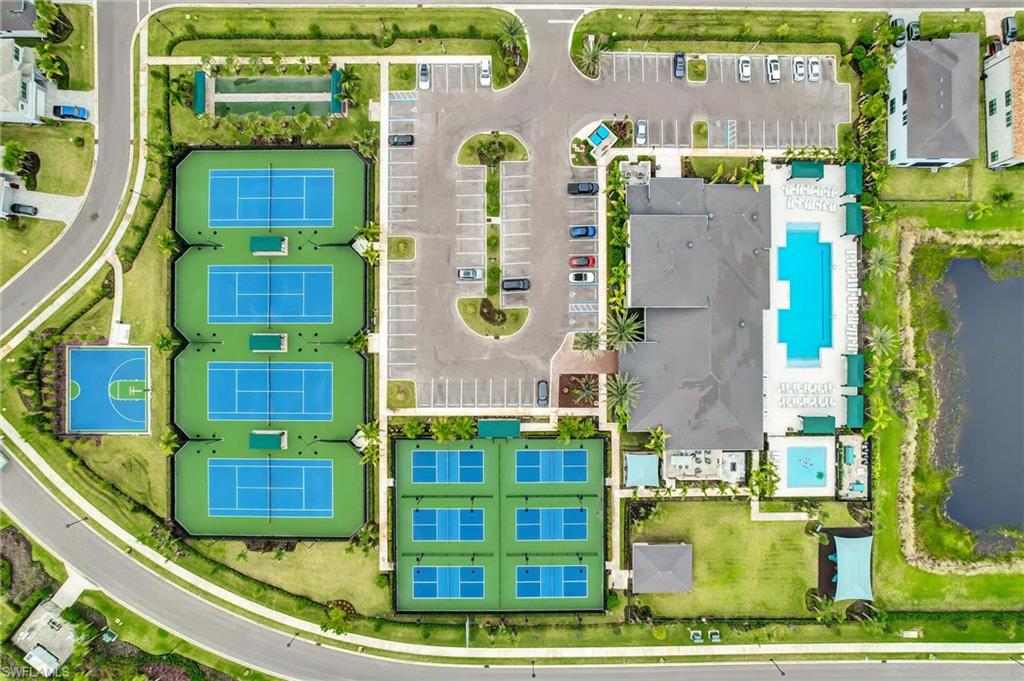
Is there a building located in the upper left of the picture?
Yes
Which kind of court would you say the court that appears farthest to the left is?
basketball court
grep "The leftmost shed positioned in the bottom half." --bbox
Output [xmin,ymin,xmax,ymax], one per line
[25,639,67,677]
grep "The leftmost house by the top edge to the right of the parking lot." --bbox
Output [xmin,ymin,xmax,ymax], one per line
[889,33,979,173]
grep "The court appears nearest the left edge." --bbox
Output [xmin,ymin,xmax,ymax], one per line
[66,346,150,434]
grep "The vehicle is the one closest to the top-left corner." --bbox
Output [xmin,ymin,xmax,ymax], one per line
[54,105,90,119]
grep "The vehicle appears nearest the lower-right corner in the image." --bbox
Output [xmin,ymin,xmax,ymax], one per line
[536,380,549,406]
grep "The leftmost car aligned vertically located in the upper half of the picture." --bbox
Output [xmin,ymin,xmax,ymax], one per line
[418,64,430,90]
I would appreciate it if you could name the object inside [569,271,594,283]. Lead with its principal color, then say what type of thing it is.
white vehicle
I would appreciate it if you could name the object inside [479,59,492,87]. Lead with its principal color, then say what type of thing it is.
white vehicle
